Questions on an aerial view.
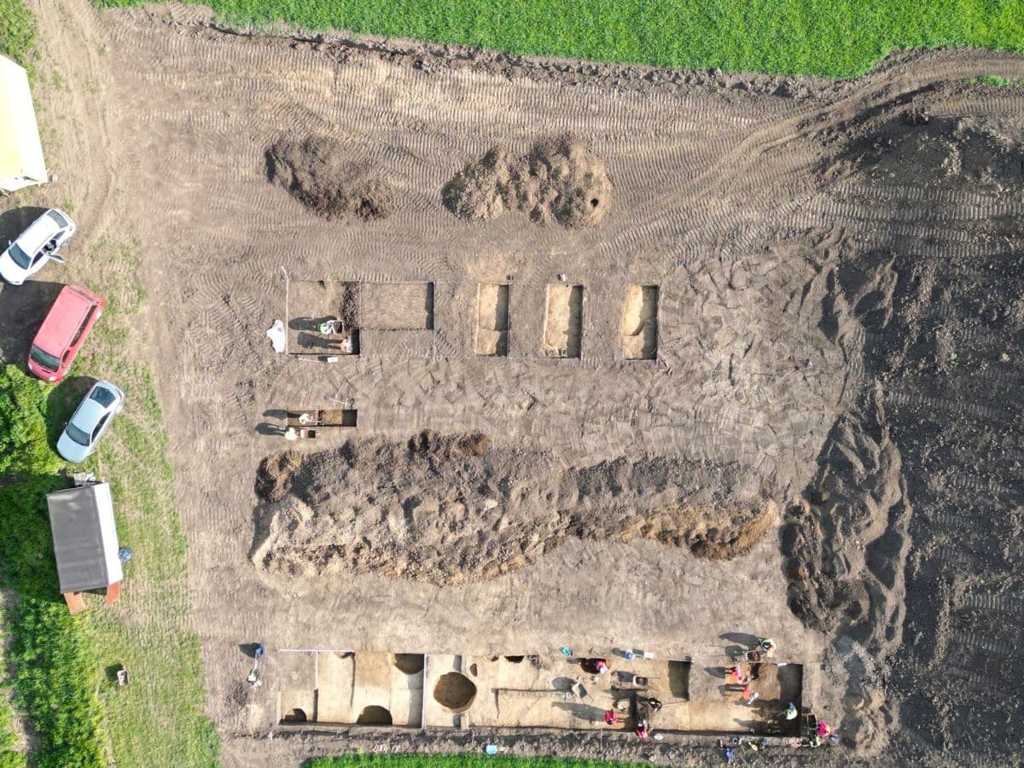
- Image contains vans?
Yes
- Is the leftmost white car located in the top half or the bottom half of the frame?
top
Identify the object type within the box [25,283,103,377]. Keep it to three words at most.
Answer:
van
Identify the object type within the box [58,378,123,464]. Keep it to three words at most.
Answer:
car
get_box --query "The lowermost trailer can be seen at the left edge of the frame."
[46,472,125,611]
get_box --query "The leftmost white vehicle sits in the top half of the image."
[0,203,74,281]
